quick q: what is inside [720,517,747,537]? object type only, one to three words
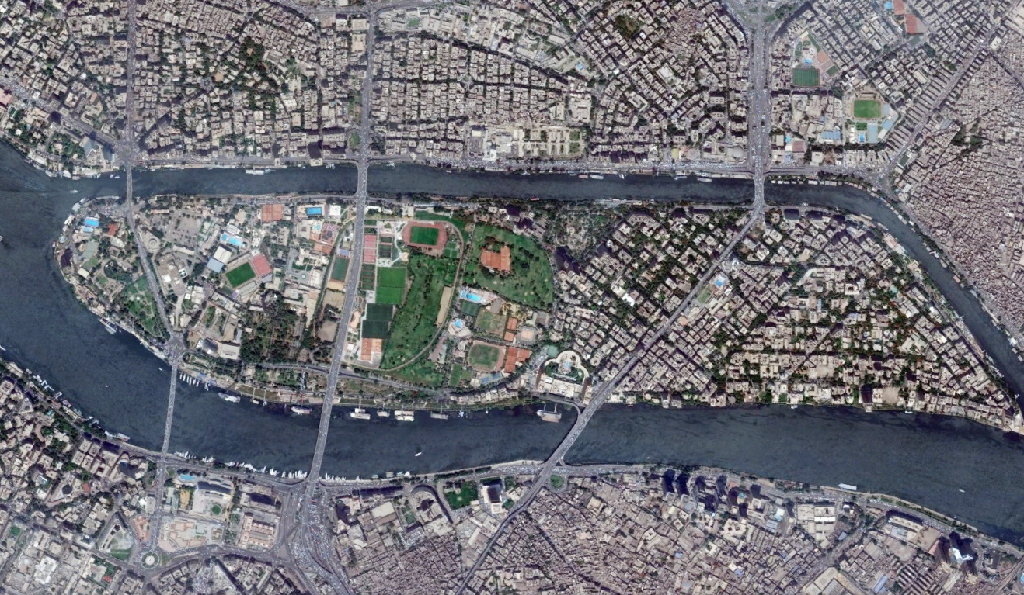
building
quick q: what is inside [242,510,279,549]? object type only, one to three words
building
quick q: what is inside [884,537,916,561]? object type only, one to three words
shed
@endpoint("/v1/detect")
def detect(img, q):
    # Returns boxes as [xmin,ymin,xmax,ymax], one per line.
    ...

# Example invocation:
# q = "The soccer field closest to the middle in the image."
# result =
[476,308,506,337]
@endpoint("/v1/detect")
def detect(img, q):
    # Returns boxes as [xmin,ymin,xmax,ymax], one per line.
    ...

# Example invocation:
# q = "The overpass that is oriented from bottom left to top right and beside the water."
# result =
[456,116,764,595]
